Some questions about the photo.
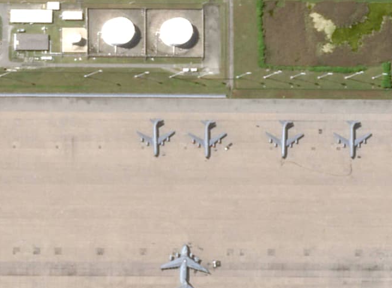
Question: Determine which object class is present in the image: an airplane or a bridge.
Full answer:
The image shows an airplane.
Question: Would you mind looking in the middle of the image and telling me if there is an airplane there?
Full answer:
Yes, in the middle of the image there is an airplane.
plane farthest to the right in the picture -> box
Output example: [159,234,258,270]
[333,121,372,159]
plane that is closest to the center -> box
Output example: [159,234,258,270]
[188,121,227,160]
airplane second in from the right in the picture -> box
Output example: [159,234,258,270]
[265,121,304,159]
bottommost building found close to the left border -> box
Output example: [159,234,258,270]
[15,35,49,51]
